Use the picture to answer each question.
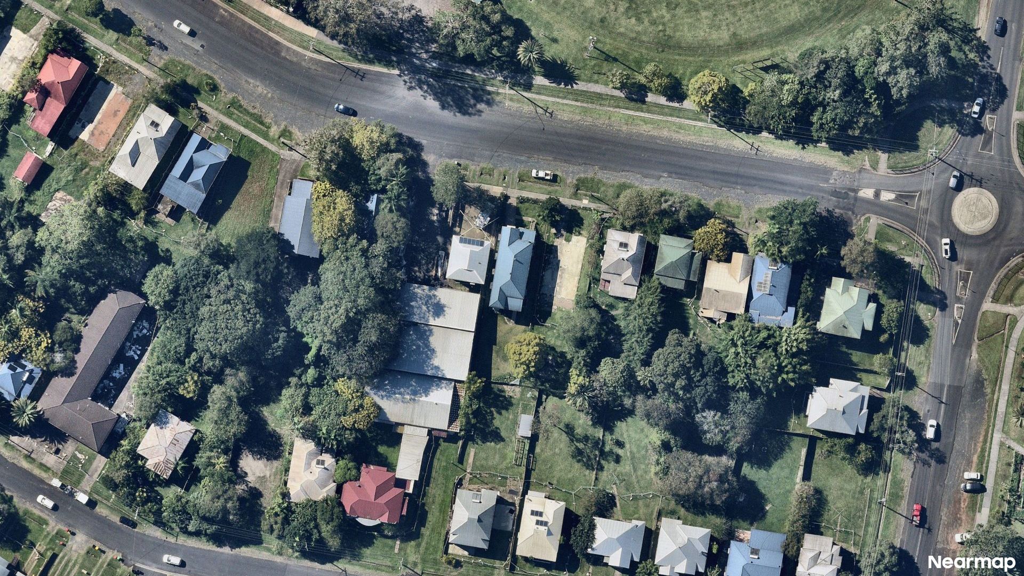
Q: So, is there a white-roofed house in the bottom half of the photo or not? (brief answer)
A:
Yes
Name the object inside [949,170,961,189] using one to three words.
vehicle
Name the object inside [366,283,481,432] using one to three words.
building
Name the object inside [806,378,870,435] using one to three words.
house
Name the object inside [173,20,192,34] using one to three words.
car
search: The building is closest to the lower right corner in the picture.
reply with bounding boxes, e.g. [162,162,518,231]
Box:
[797,533,842,576]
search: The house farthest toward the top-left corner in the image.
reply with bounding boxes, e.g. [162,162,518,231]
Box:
[23,53,89,137]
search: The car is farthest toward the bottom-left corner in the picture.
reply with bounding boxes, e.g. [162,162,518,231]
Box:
[36,495,56,510]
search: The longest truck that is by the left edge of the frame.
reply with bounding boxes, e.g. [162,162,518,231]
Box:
[50,477,91,504]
